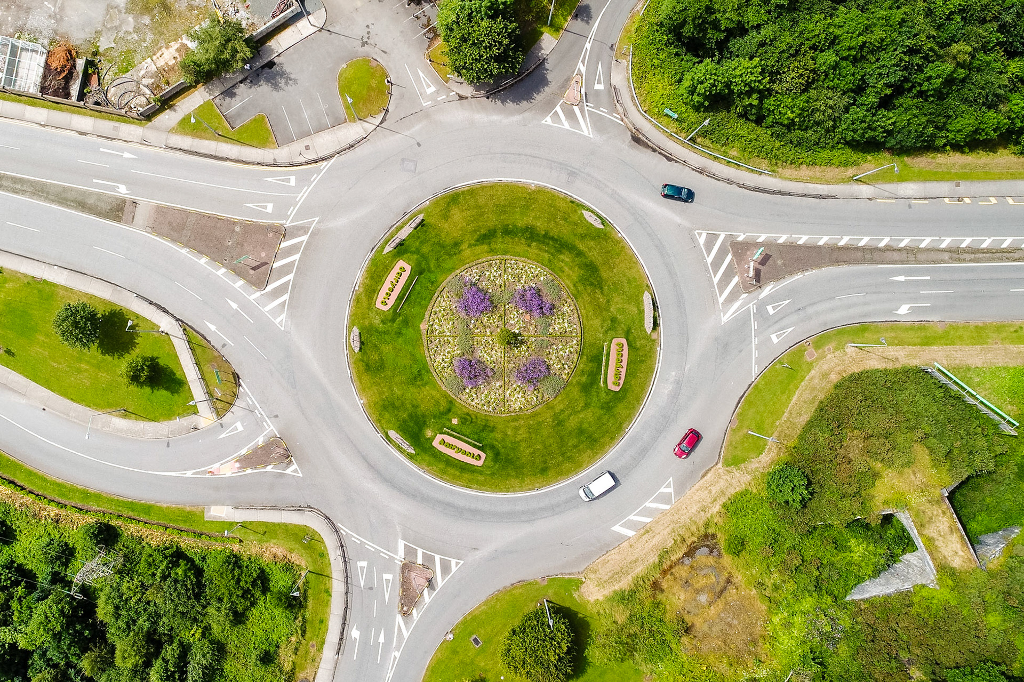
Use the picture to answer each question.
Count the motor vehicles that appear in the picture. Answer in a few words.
three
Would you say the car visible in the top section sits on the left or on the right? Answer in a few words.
right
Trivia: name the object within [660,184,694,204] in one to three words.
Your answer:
car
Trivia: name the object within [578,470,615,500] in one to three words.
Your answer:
van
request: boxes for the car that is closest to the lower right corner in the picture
[673,428,701,459]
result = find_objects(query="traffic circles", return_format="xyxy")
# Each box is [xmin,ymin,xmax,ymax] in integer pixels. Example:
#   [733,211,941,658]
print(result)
[290,123,718,551]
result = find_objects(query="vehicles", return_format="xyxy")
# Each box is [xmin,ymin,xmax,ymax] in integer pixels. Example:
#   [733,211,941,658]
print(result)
[660,184,694,204]
[673,428,701,459]
[578,470,615,500]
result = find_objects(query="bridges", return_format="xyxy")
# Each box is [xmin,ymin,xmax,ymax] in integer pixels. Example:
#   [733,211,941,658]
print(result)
[847,477,1024,606]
